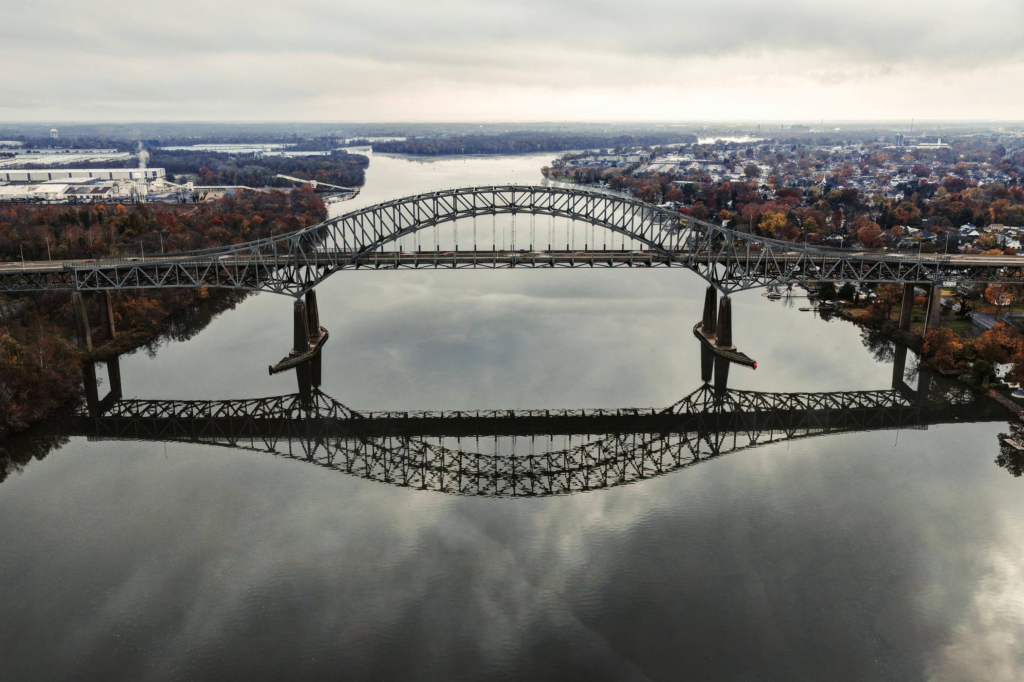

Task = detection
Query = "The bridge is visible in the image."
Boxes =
[72,183,942,297]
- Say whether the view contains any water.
Yes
